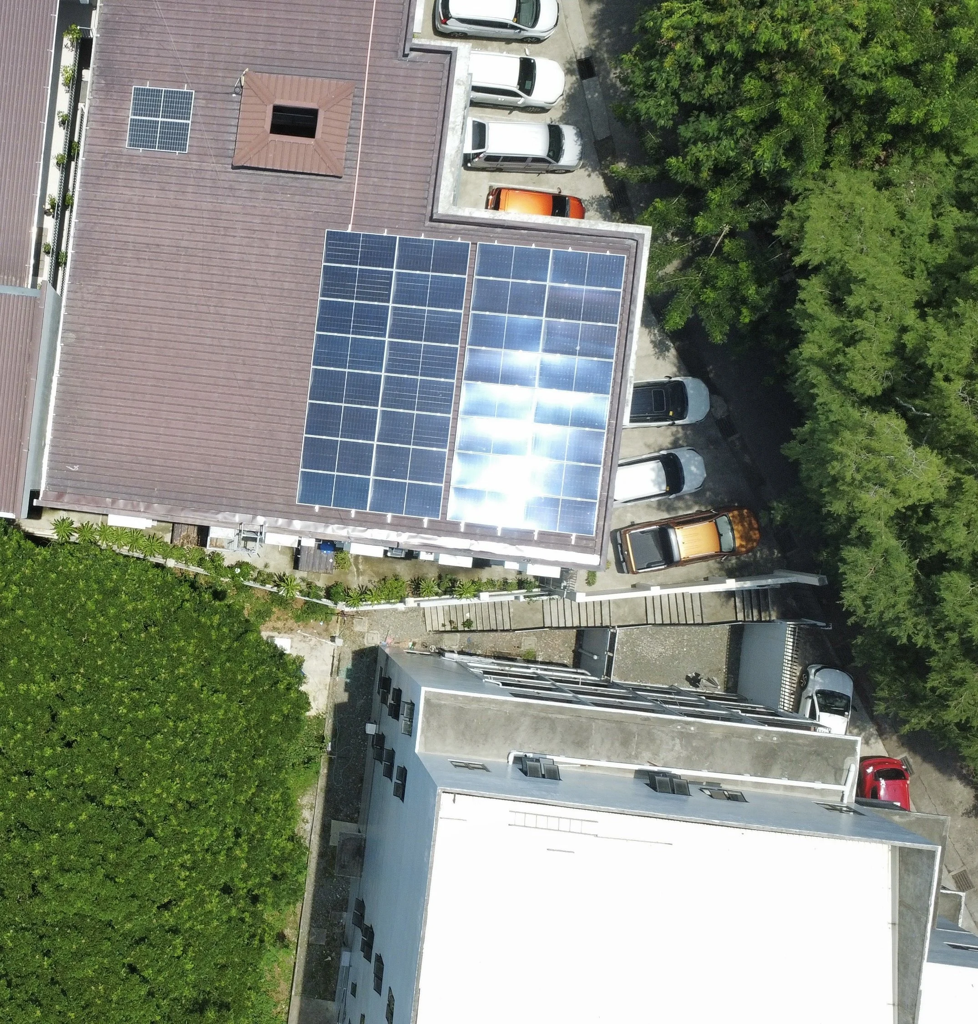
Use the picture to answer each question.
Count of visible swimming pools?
0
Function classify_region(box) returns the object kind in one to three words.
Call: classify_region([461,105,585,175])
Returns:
van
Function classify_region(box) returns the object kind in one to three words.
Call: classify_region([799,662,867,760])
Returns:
car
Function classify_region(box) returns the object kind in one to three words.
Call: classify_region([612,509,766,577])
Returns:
truck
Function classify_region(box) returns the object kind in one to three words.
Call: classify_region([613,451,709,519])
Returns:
car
